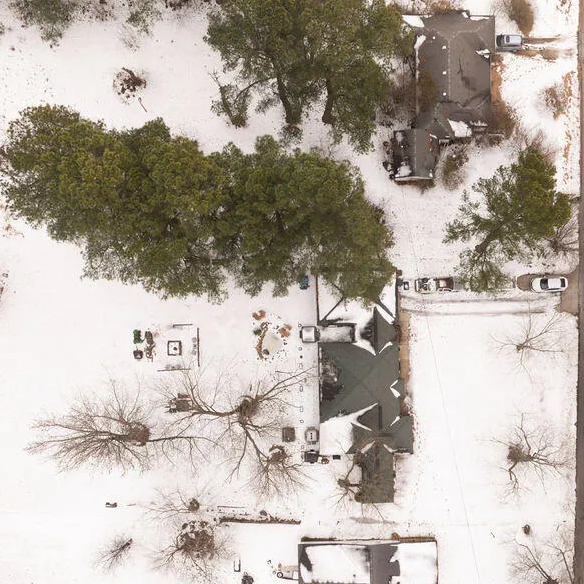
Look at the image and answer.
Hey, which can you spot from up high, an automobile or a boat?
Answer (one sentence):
Of the two, only an automobile appears.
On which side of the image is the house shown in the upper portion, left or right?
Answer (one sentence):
You can find the house shown in the upper portion on the right side of the picture.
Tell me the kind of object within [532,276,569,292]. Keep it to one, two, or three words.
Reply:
car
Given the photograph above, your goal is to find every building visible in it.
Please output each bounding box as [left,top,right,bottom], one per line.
[298,540,437,584]
[393,9,496,183]
[316,250,413,503]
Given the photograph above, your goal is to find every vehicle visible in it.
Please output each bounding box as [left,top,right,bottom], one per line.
[416,276,468,293]
[496,31,525,49]
[532,276,569,292]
